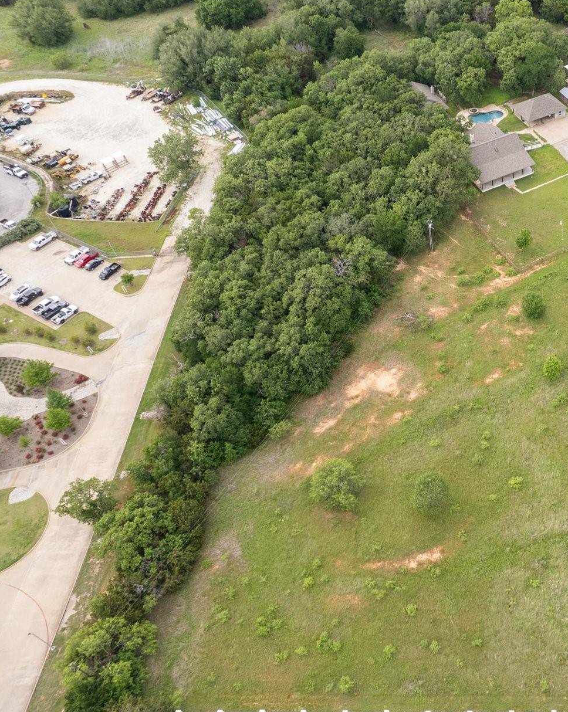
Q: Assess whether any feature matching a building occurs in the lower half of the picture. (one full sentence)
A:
No, I see no building in the lower half of the picture.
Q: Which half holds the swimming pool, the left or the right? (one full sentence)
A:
The swimming pool is on the right side of the image.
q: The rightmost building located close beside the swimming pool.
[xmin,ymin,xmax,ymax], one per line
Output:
[509,94,568,133]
